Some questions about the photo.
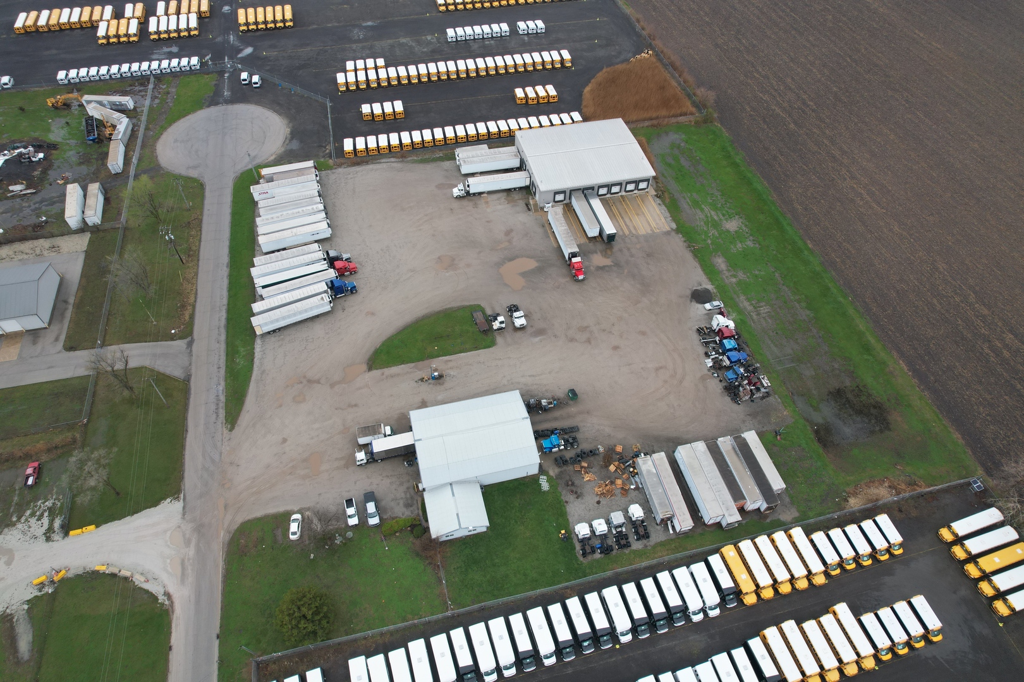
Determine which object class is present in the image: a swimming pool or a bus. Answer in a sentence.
The one in the frame is a bus.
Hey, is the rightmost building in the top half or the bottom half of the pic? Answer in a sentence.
It is in the top half that the rightmost building appears.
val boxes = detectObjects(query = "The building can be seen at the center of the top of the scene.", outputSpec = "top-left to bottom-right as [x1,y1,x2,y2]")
[514,118,654,206]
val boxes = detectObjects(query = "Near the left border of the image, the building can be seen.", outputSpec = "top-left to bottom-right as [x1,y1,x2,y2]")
[0,262,61,335]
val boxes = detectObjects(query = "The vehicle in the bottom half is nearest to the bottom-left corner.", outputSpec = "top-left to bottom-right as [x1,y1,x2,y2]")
[24,464,39,486]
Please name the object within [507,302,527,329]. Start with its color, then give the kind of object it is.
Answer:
white vehicle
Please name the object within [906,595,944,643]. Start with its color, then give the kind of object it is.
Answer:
white bus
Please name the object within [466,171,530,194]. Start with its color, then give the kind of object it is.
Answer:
white trailer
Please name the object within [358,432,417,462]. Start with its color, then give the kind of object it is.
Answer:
white truck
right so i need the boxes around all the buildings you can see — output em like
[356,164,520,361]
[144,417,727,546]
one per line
[514,118,654,206]
[0,262,61,335]
[410,390,540,492]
